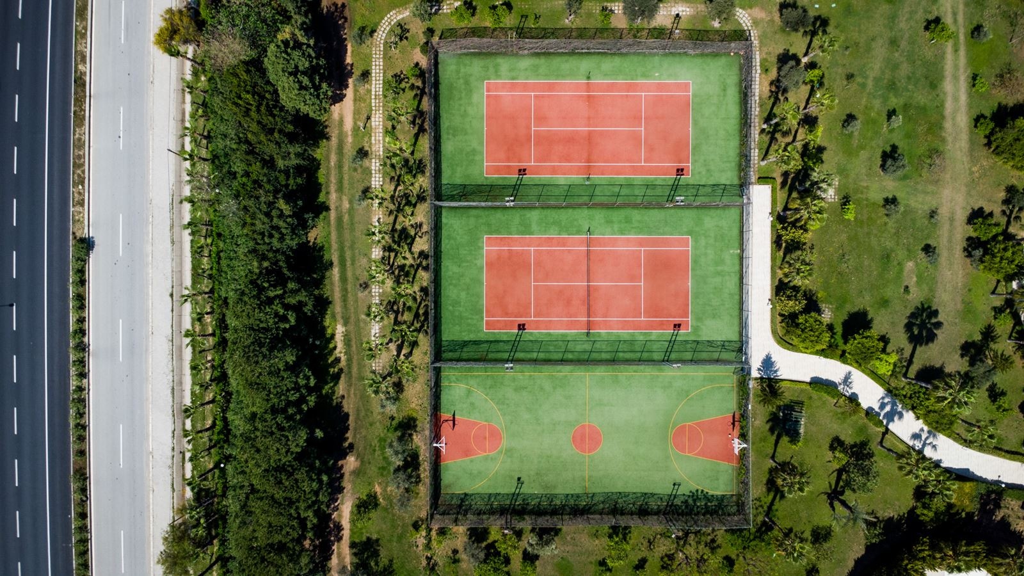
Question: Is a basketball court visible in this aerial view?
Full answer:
Yes, there's a basketball court down there.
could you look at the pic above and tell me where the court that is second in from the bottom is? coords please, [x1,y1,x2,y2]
[433,207,742,361]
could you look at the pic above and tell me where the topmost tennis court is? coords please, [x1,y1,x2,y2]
[433,52,742,206]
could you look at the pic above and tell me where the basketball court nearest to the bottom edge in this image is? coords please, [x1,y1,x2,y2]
[433,362,742,516]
